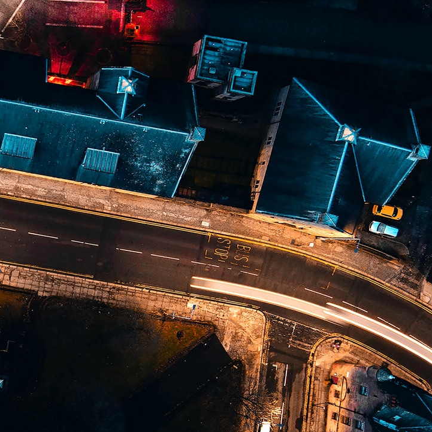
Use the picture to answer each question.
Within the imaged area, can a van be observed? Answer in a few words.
Yes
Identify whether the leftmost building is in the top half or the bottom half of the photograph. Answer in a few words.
top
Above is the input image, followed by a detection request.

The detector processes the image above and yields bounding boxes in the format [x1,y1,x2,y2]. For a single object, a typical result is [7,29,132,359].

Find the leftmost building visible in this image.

[0,49,208,203]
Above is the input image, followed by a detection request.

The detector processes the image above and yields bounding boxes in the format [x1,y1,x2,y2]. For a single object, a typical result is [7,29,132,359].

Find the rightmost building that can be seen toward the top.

[244,75,432,240]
